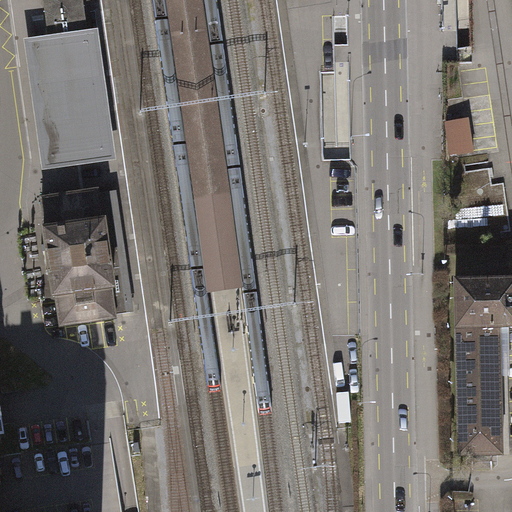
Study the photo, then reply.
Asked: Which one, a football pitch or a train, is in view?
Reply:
train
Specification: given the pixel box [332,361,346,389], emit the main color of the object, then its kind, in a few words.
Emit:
white vehicle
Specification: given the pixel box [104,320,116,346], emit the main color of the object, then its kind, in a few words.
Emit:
black vehicle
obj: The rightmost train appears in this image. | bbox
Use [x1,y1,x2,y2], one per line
[204,0,272,417]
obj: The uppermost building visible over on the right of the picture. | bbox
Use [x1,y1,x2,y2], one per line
[445,118,474,156]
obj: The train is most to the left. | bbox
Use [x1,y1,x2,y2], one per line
[152,0,220,395]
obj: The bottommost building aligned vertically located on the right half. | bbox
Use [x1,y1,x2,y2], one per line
[454,274,512,456]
